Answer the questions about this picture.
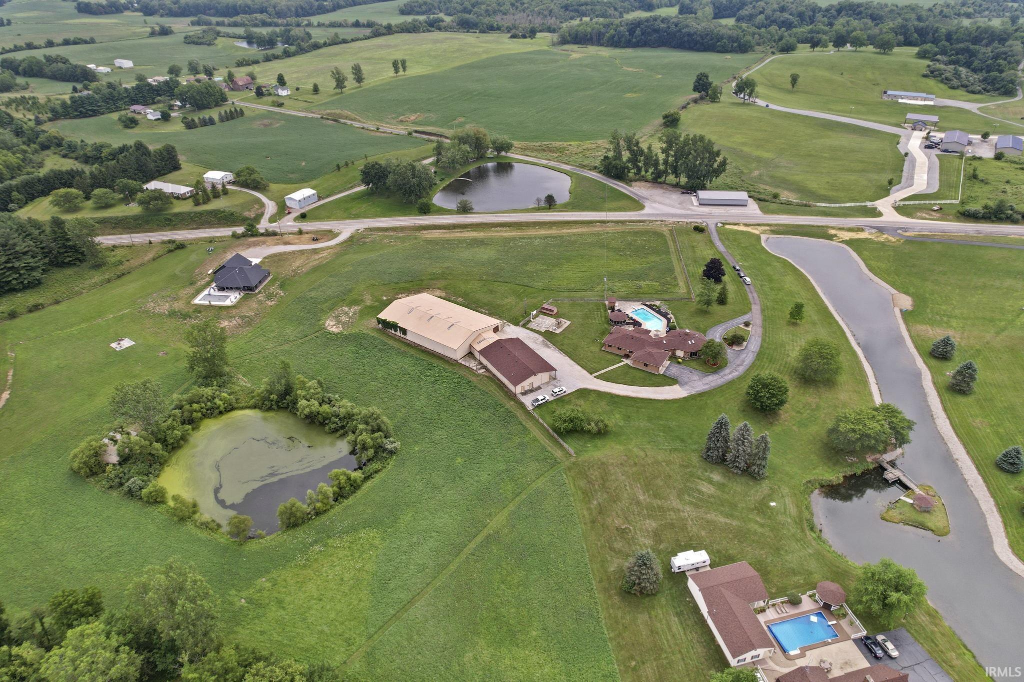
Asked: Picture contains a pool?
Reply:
Yes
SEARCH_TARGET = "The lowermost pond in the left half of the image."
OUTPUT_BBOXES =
[213,411,348,537]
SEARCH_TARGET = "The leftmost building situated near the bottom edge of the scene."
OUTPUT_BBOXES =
[688,561,775,665]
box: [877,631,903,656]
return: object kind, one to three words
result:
car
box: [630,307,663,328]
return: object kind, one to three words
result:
swimming pool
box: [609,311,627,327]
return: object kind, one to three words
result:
gazebo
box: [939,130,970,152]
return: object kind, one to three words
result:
barn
